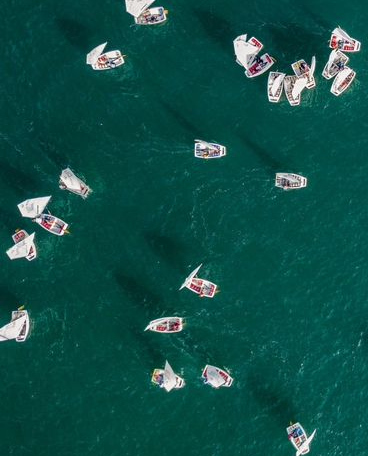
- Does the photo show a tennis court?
No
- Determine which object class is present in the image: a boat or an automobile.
boat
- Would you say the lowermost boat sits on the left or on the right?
right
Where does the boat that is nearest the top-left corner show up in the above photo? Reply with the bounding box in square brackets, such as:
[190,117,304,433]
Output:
[85,41,130,71]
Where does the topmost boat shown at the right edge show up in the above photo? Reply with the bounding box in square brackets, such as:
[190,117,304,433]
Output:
[327,27,362,52]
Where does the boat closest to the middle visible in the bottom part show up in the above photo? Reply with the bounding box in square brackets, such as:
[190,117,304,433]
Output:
[179,262,223,298]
